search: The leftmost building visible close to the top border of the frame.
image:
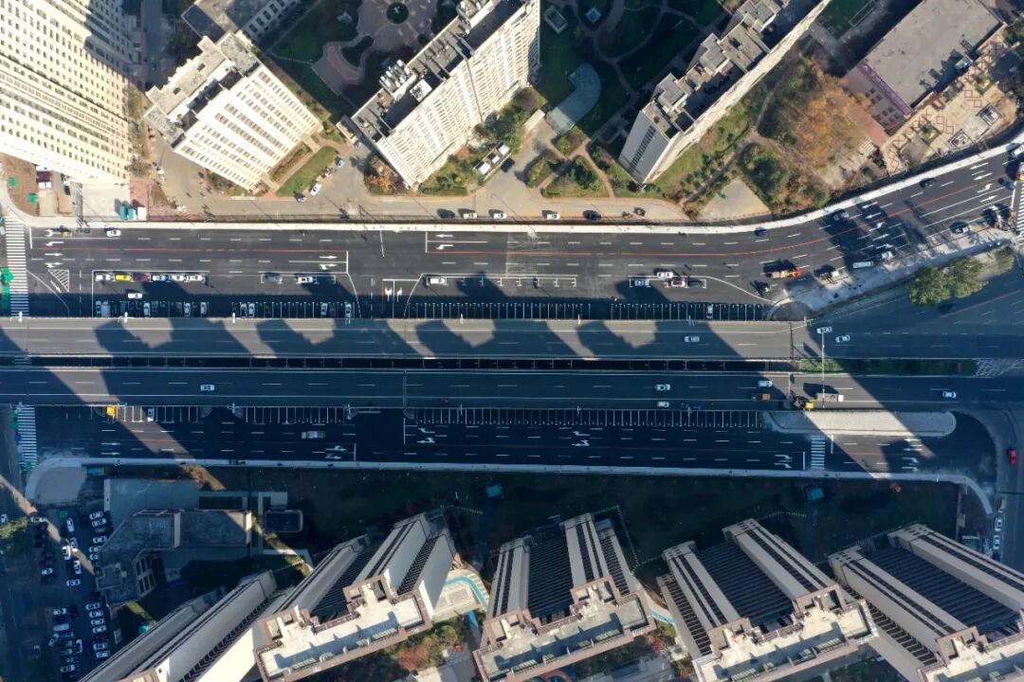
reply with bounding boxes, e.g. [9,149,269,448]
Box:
[0,0,139,178]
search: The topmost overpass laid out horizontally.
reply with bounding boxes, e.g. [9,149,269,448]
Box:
[0,318,792,360]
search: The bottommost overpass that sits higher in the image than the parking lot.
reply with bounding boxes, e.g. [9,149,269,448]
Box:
[0,367,792,410]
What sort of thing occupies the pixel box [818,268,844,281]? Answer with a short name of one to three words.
vehicle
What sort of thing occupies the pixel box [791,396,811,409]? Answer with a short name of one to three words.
vehicle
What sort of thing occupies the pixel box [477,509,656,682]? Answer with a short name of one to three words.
building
